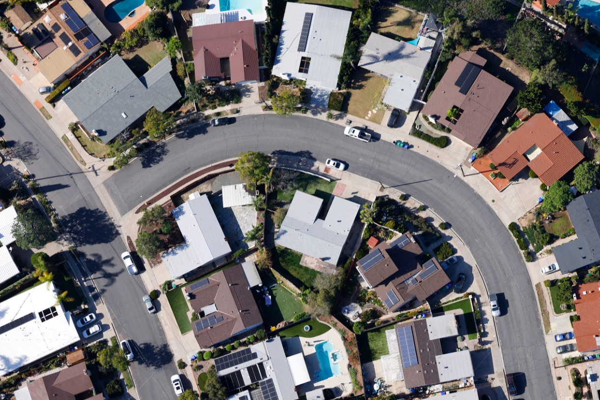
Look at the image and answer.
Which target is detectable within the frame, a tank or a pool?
pool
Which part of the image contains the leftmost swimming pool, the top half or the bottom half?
top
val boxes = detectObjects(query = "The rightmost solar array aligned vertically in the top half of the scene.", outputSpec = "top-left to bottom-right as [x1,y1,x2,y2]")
[298,12,313,51]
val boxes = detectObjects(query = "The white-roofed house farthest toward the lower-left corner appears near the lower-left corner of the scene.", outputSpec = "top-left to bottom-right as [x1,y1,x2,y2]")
[0,281,83,376]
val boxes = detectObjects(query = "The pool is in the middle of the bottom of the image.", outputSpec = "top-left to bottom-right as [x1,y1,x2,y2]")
[312,339,344,383]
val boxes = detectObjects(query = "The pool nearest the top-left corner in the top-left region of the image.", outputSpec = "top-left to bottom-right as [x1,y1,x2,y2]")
[103,0,146,23]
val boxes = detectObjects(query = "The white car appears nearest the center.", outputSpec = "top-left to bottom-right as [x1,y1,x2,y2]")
[325,158,345,171]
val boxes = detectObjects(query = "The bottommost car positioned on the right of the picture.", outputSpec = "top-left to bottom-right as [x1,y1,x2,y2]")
[505,373,517,396]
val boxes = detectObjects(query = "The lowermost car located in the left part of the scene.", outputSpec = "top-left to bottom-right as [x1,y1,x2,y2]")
[170,375,185,398]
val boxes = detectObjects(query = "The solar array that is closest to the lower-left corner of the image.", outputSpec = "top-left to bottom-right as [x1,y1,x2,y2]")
[0,314,35,334]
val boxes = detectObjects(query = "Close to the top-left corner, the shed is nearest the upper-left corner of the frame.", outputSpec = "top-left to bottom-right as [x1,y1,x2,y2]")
[4,4,34,31]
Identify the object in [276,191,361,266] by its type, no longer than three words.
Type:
house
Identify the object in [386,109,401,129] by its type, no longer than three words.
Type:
car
